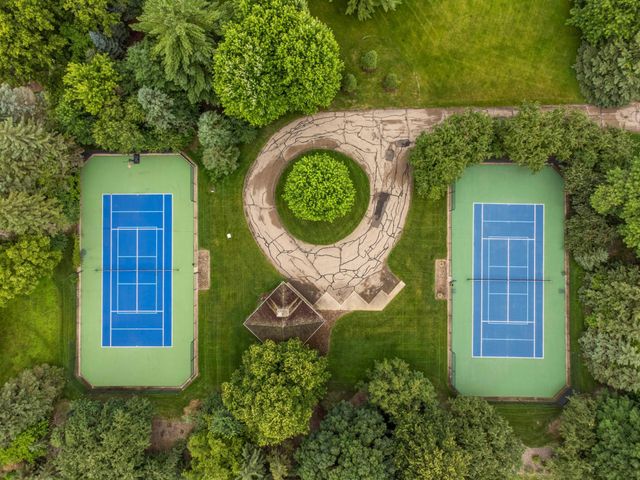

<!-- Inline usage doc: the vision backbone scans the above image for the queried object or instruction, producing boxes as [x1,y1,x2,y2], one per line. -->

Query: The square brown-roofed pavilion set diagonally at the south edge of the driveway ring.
[243,279,327,358]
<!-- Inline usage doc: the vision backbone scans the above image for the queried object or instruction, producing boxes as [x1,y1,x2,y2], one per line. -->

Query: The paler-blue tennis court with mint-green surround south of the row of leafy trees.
[447,161,569,401]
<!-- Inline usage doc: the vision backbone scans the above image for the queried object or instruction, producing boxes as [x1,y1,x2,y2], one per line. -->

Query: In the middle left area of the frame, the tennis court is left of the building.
[76,151,198,391]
